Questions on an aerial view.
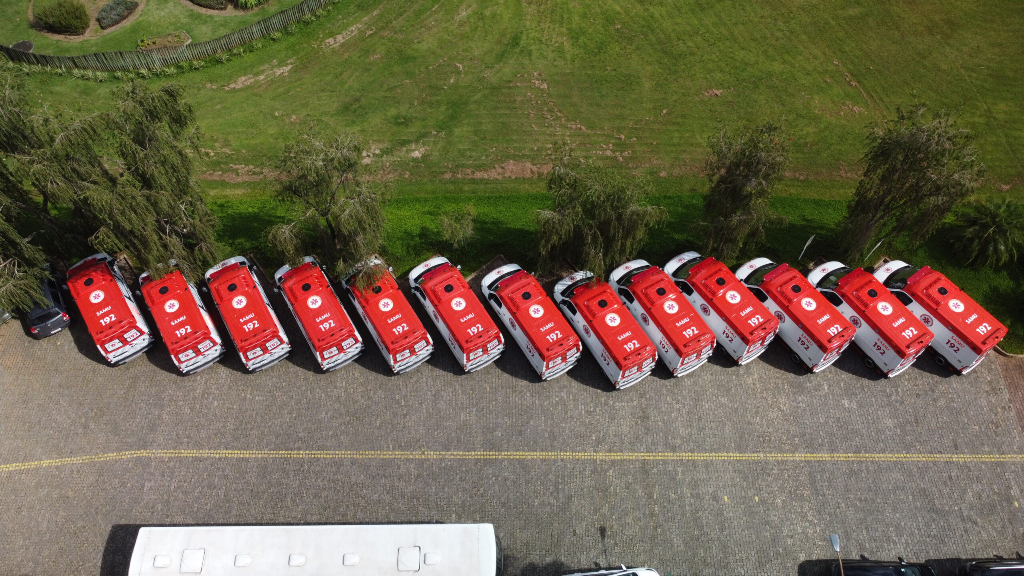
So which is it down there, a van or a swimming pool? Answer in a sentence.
The one in the frame is a van.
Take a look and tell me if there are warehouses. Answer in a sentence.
No, no warehouse can be seen from above.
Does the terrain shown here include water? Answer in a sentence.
No, the scene doesn't show any water.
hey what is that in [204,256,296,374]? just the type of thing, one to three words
van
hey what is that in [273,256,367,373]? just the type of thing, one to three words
van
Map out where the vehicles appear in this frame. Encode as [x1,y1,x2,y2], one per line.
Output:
[3,267,71,340]
[549,272,657,392]
[273,256,367,373]
[340,259,436,376]
[800,263,933,380]
[138,261,232,378]
[938,562,1024,576]
[604,261,715,380]
[124,526,505,576]
[659,253,779,368]
[731,260,857,376]
[567,560,663,576]
[480,265,583,384]
[866,262,1006,377]
[204,256,296,374]
[808,553,932,576]
[408,259,506,376]
[65,254,161,368]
